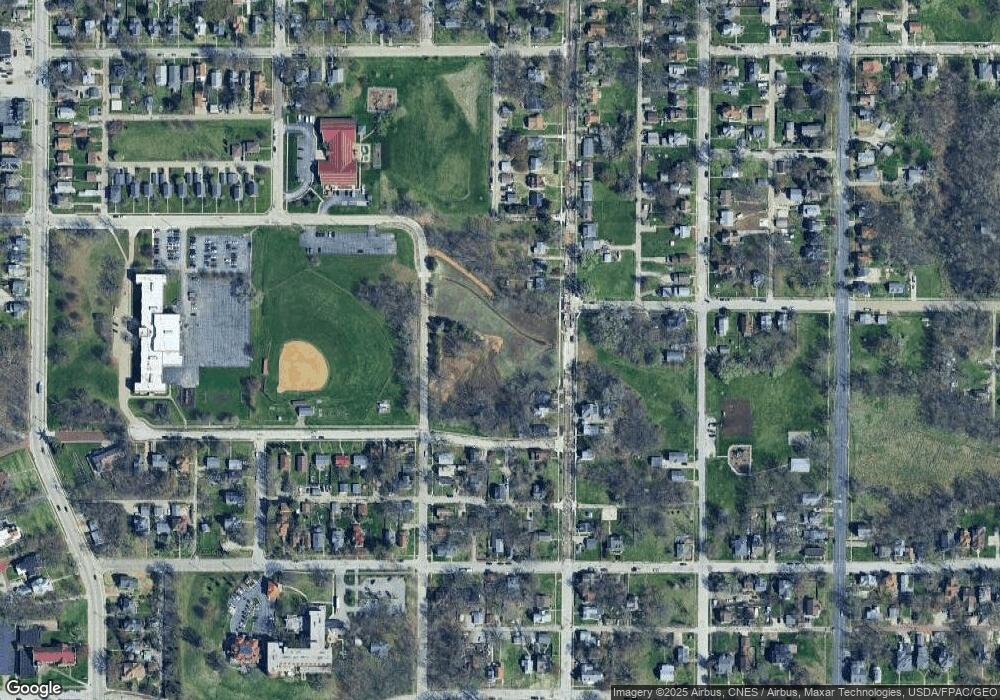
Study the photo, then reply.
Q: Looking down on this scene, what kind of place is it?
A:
residential area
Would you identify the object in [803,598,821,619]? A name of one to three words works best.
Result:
house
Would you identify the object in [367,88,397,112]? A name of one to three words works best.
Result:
playground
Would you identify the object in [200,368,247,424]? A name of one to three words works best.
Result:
soccer field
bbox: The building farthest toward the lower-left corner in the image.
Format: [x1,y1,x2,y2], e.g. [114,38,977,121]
[20,630,75,679]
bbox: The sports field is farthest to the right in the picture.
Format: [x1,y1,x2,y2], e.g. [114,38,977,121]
[366,57,490,214]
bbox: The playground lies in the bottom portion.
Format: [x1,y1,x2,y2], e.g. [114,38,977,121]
[729,445,752,474]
